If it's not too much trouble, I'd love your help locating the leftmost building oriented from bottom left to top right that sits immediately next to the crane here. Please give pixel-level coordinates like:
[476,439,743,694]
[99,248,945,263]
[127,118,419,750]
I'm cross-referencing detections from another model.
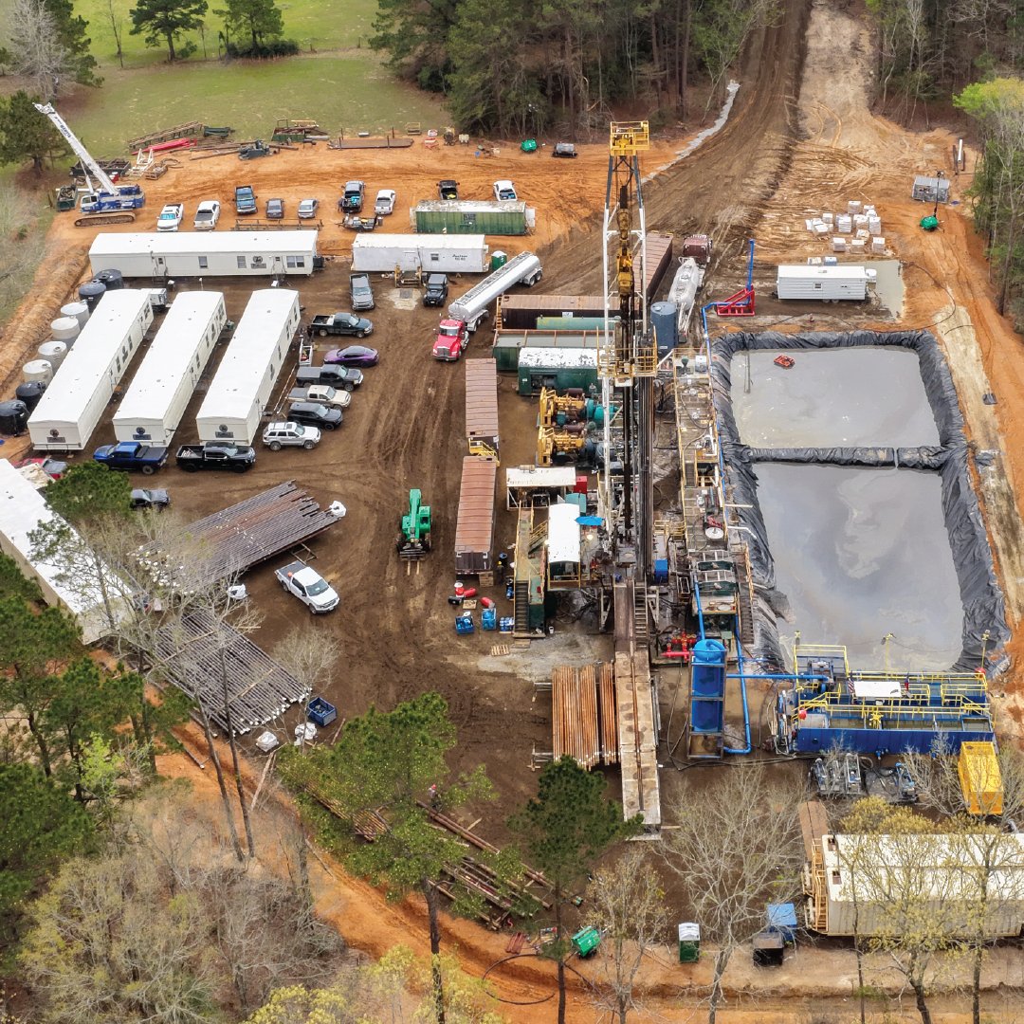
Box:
[27,287,156,456]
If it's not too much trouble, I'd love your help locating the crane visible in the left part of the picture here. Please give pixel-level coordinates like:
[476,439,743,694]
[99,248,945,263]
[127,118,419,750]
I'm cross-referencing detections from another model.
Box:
[28,100,146,228]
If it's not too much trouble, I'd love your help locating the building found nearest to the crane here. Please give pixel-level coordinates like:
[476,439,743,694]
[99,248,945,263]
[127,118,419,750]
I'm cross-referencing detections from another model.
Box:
[88,232,321,288]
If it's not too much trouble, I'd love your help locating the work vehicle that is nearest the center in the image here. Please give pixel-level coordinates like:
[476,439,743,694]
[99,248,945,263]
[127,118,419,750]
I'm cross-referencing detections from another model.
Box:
[395,488,432,572]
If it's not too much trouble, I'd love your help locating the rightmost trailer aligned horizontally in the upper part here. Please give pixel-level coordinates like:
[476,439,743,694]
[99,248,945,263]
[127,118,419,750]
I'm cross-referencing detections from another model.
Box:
[770,267,875,306]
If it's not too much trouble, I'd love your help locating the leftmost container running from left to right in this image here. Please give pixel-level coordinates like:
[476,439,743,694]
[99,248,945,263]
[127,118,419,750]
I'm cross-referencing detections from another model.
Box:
[407,202,532,238]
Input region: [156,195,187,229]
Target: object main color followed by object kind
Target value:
white truck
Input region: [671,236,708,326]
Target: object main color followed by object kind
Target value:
white trailer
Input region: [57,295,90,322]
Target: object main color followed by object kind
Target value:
white water tank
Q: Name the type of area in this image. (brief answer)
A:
industrial area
